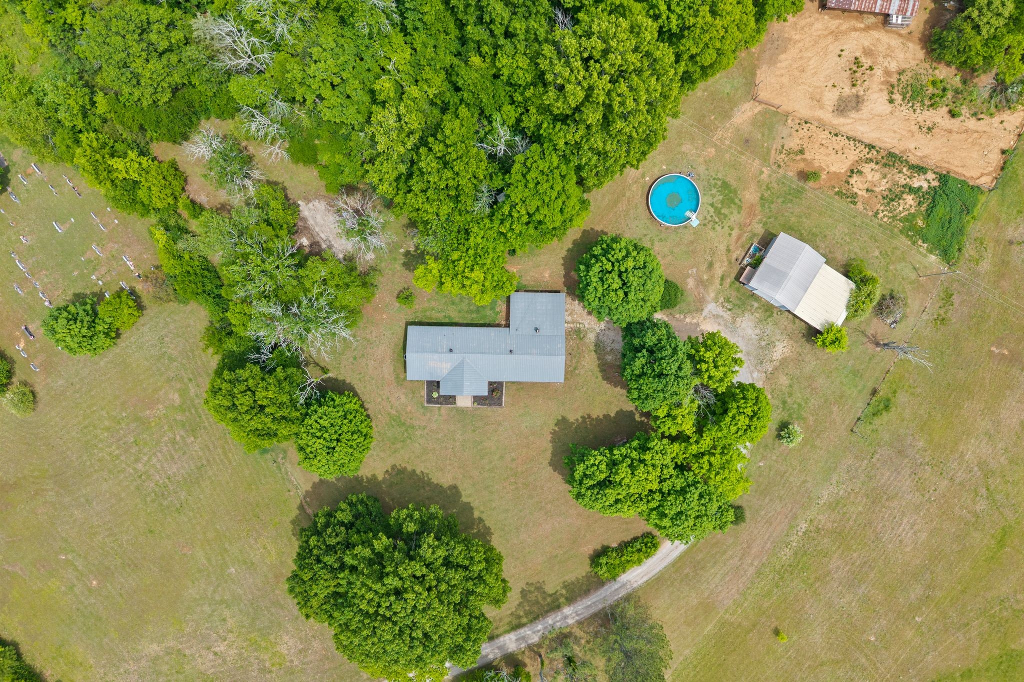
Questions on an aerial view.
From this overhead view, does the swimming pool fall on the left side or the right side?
right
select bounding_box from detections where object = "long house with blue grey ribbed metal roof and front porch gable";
[406,293,565,396]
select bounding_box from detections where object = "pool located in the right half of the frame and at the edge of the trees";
[647,174,700,227]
